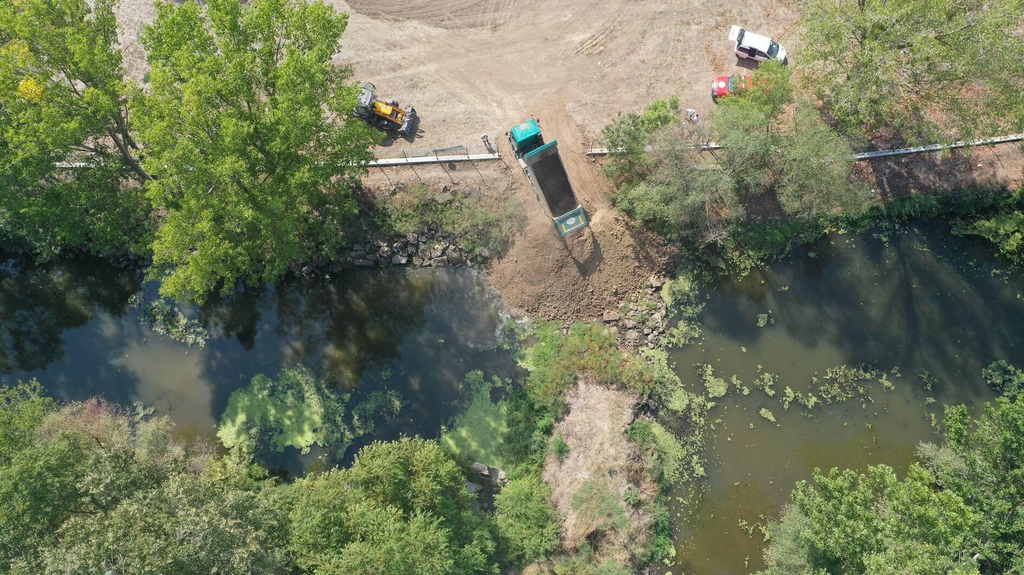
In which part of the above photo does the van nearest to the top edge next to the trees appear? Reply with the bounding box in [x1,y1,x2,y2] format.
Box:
[726,26,785,68]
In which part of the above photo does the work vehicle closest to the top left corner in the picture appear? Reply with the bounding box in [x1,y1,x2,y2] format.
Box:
[339,80,419,137]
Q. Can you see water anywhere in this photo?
Yes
